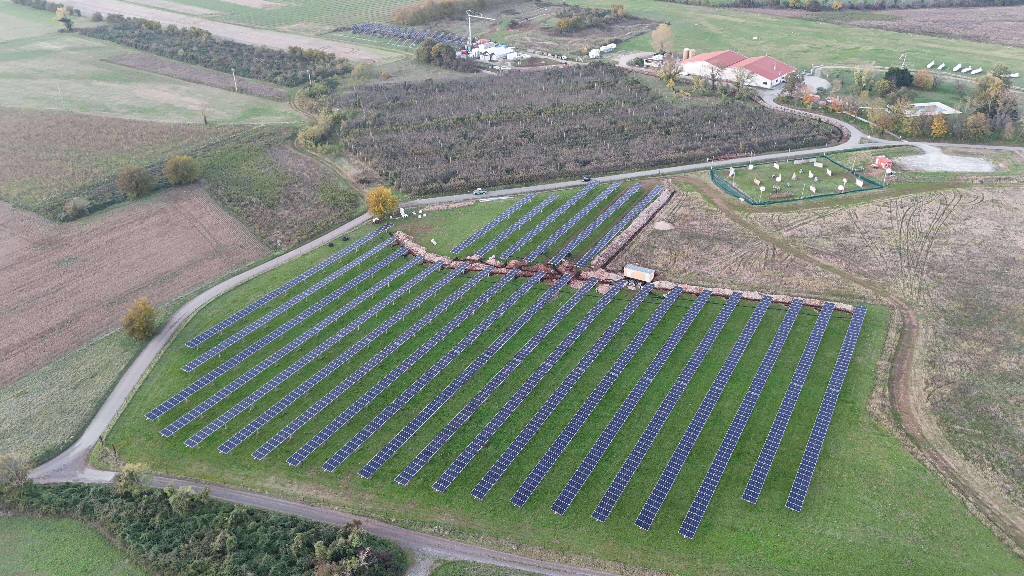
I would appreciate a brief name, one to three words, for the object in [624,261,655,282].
building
